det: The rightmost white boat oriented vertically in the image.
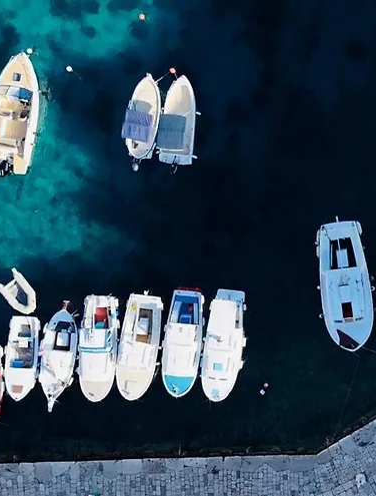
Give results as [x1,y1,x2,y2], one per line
[197,288,250,403]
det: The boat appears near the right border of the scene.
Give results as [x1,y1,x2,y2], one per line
[314,215,376,352]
